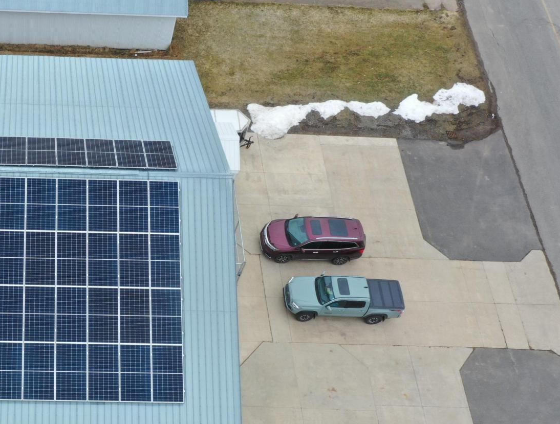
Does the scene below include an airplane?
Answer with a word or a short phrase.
No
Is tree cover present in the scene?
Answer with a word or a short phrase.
No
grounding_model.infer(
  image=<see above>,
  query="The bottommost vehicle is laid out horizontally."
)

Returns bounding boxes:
[283,267,404,323]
